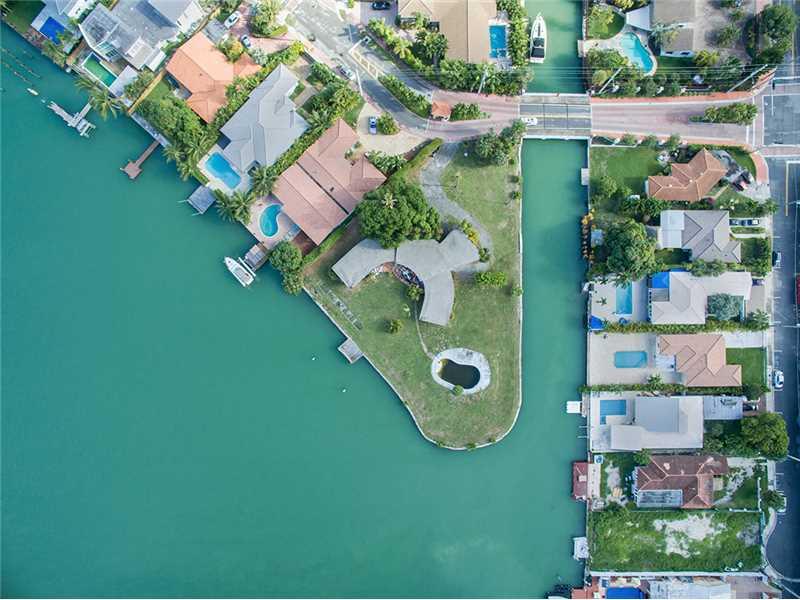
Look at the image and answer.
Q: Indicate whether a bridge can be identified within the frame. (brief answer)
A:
Yes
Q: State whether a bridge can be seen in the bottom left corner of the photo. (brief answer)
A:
No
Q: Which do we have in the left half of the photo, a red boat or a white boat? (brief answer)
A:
white boat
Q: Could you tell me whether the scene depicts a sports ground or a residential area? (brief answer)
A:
residential area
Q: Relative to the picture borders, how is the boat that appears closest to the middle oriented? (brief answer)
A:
diagonally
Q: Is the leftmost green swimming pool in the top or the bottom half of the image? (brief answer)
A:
top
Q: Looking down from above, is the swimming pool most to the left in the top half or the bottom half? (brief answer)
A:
top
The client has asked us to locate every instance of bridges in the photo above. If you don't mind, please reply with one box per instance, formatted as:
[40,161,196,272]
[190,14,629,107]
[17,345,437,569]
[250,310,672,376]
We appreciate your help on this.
[519,90,595,138]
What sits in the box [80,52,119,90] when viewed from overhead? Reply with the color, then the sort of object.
green swimming pool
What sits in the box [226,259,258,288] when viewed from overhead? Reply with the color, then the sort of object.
white boat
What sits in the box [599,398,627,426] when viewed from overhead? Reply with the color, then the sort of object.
blue swimming pool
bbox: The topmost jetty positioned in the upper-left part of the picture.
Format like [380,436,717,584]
[51,97,95,138]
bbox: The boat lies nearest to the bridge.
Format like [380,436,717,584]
[531,12,545,63]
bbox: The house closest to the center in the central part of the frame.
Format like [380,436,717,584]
[332,230,479,326]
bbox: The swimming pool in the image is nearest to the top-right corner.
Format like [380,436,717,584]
[617,31,656,74]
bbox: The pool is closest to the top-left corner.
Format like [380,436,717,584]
[38,15,66,45]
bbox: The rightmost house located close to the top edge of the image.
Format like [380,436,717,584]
[648,0,702,58]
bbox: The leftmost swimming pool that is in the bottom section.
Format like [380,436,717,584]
[439,359,480,389]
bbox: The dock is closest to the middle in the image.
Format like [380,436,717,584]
[338,338,362,362]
